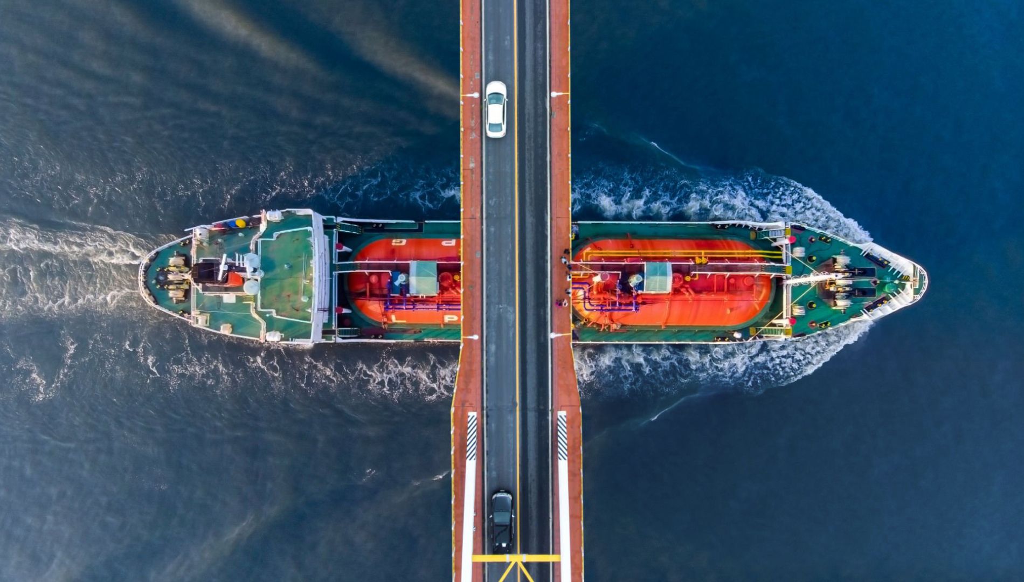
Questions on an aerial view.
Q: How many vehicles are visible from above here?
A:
2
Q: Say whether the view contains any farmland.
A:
No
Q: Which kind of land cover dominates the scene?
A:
water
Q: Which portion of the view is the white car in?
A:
top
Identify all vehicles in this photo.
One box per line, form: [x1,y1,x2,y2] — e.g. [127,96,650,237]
[483,82,509,139]
[488,489,516,554]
